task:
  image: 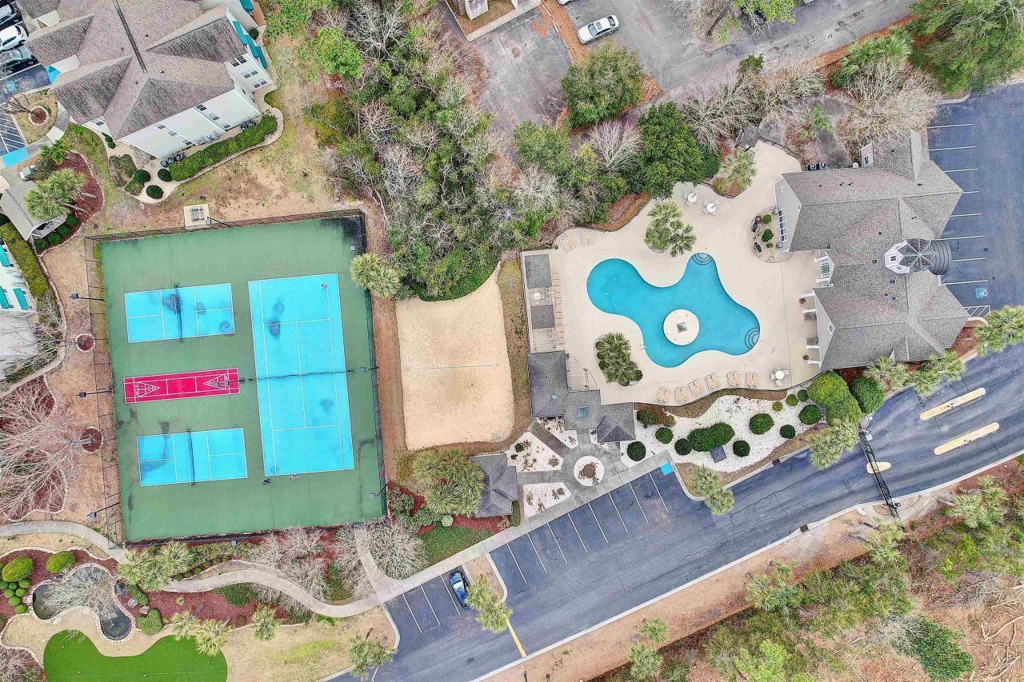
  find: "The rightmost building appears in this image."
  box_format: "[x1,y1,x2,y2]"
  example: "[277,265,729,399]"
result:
[771,111,970,370]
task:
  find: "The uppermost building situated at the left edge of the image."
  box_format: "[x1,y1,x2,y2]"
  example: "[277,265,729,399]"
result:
[11,0,274,158]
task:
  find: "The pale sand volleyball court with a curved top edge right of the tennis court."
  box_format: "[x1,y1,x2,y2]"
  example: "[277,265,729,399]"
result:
[397,274,515,450]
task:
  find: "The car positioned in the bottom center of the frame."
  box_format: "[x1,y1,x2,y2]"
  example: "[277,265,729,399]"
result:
[445,568,471,610]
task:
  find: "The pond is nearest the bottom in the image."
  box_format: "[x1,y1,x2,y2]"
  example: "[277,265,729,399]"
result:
[30,564,134,642]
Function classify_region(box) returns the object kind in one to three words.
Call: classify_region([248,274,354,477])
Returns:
tennis court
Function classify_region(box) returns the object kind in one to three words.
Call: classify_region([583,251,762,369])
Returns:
swimming pool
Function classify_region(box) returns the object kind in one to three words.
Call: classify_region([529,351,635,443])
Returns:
building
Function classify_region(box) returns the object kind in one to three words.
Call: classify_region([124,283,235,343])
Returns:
sports court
